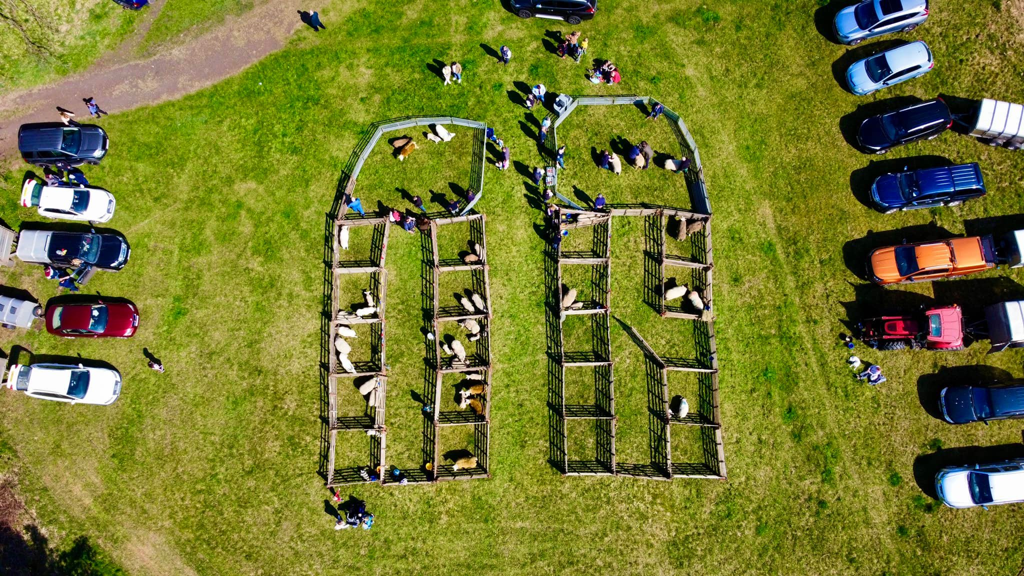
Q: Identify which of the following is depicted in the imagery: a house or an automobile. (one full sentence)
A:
Of the two, only an automobile appears.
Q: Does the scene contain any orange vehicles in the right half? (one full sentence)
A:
Yes, looking in the right half, one can make out an orange vehicle.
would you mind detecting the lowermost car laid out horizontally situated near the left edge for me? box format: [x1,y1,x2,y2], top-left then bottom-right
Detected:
[8,360,122,405]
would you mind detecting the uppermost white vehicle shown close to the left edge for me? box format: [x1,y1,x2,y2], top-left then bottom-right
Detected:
[22,181,118,222]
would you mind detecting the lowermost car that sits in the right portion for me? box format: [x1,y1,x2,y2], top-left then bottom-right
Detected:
[930,454,1024,506]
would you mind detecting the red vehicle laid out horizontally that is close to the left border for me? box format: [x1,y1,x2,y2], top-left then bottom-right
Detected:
[45,295,140,338]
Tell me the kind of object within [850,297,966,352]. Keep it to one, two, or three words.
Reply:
work vehicle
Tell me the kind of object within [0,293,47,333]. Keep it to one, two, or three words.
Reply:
trailer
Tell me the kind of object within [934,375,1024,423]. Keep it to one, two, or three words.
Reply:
truck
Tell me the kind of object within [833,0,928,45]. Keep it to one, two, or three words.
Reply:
car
